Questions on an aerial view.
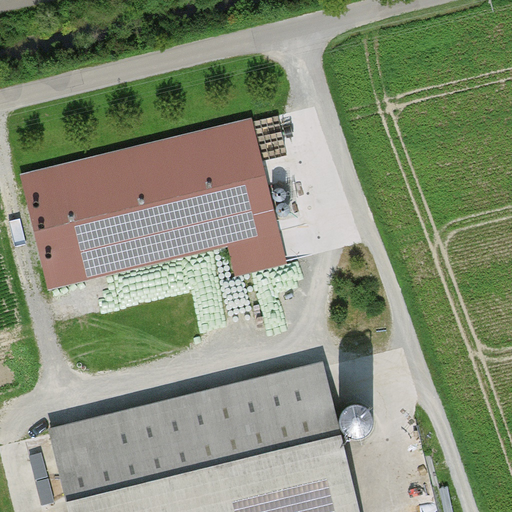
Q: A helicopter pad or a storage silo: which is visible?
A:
storage silo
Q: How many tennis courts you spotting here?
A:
none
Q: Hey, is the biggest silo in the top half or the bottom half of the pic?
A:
bottom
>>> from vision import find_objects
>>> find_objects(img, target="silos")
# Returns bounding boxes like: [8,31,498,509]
[274,202,293,218]
[272,187,289,202]
[338,404,373,444]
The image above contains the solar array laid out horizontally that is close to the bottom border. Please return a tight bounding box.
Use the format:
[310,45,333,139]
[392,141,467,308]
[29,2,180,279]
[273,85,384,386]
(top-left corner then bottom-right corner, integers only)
[233,479,335,512]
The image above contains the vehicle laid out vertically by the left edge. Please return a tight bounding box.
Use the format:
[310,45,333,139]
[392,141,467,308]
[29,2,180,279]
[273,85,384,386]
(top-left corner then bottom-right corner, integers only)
[10,218,26,246]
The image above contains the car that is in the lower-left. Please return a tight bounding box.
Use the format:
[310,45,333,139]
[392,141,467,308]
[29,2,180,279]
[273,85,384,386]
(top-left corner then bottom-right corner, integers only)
[28,417,49,437]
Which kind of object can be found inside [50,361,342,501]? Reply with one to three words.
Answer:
barn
